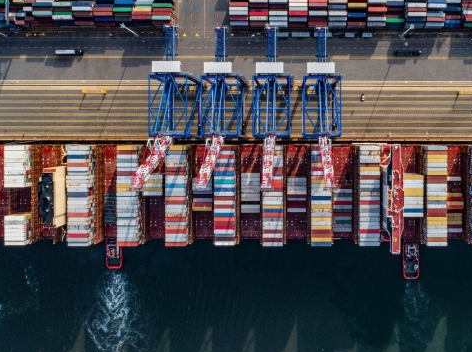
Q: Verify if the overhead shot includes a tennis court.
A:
No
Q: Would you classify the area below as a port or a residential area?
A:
port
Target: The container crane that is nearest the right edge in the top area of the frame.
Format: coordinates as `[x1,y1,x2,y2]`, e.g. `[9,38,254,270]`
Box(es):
[298,20,343,191]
